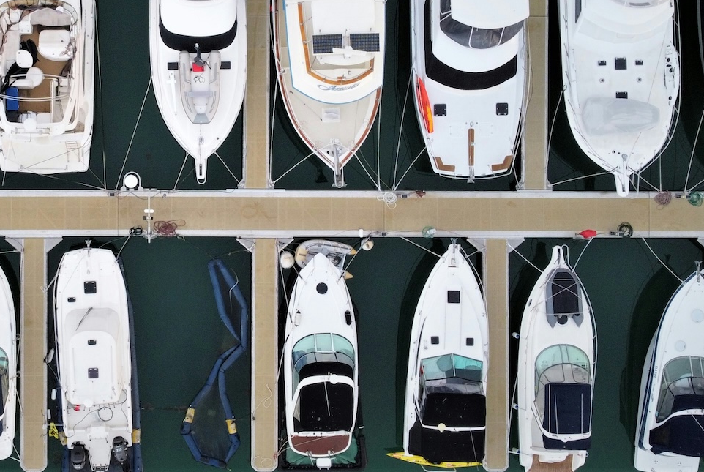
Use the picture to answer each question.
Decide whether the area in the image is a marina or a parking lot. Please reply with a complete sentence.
What you see here is a marina.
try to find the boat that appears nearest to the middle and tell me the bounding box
[291,238,358,281]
